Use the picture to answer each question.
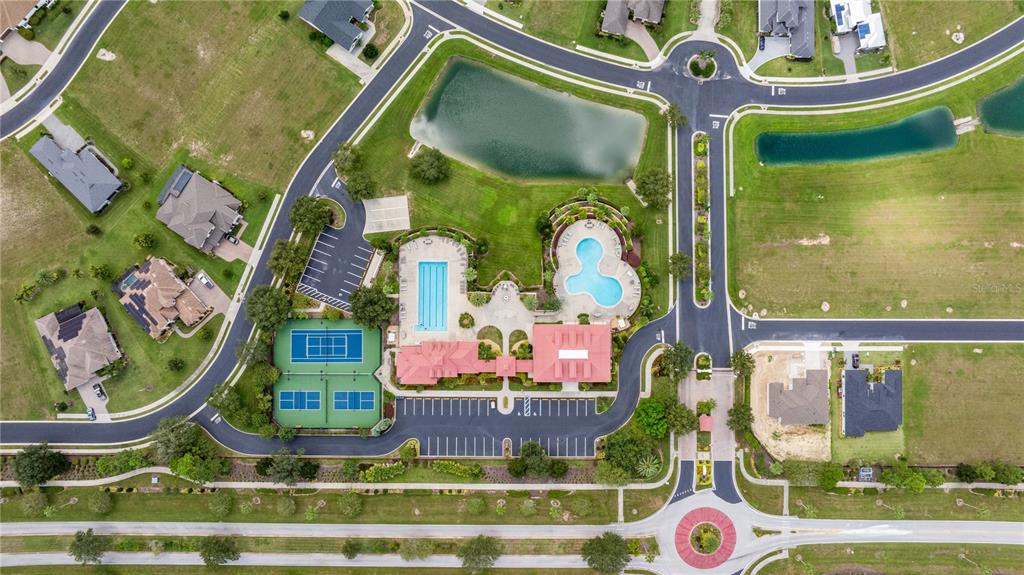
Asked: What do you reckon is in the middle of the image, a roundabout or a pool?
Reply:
pool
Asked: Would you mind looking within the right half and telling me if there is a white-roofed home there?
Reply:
Yes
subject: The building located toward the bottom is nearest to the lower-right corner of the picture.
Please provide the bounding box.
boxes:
[841,369,903,436]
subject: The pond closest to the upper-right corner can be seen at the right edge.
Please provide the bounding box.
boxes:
[975,75,1024,138]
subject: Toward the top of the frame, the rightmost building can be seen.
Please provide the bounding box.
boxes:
[825,0,886,50]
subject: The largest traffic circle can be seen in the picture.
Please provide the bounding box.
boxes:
[675,507,736,569]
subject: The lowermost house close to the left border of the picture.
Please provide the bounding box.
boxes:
[35,306,123,391]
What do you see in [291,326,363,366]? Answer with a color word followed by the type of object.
blue tennis court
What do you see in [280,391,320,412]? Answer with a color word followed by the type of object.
blue sports court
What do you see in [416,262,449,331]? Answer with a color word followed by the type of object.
blue swimming pool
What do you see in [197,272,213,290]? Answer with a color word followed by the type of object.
white vehicle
